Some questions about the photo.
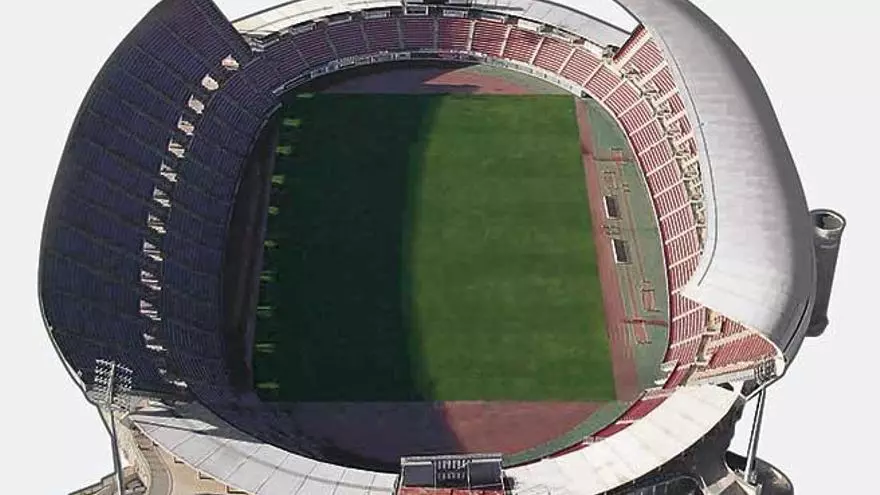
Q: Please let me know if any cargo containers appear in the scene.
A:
No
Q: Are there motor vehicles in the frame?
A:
No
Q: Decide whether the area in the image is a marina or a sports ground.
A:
sports ground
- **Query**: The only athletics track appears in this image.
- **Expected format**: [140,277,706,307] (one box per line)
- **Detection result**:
[226,60,668,459]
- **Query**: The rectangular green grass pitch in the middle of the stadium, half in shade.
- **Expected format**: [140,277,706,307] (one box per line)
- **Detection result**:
[251,94,616,402]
